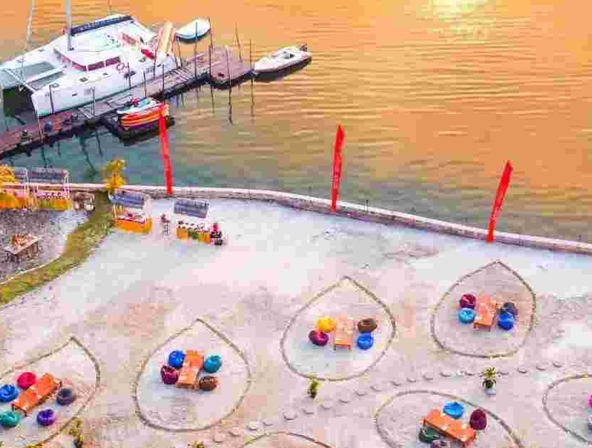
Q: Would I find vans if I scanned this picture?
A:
No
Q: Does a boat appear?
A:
Yes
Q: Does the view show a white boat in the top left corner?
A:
Yes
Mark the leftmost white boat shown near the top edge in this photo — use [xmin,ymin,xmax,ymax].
[0,0,181,119]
